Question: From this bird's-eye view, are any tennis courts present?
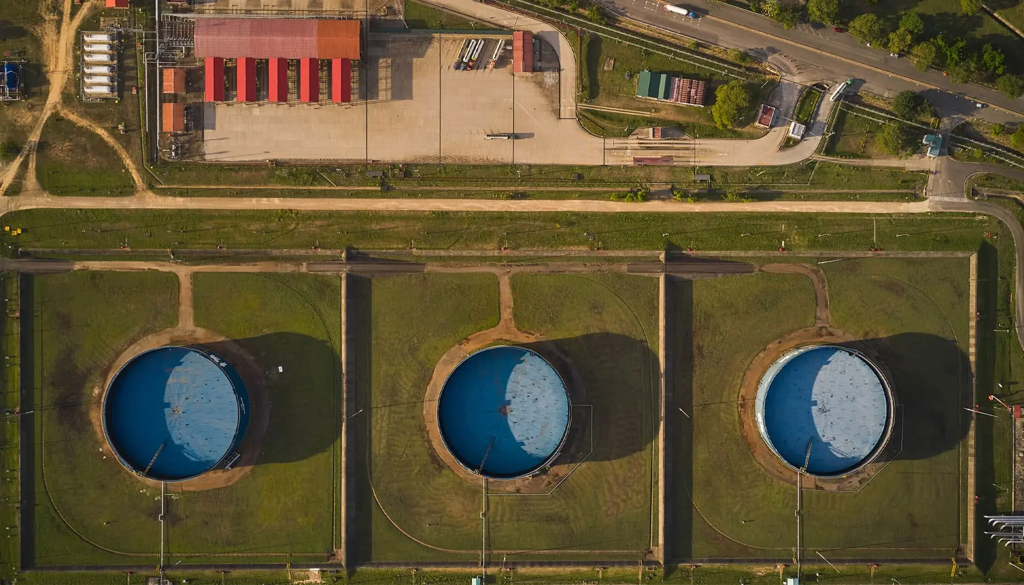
No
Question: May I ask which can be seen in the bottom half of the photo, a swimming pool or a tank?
tank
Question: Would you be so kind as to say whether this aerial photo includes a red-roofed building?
Yes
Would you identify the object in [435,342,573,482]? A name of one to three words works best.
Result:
storage tank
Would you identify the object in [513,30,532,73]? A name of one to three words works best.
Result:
building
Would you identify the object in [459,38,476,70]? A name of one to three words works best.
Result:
vehicle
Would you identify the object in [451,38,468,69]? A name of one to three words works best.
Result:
vehicle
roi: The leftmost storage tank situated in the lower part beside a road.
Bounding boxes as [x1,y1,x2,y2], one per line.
[100,342,250,484]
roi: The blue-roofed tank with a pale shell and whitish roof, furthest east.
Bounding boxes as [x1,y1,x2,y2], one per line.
[752,342,897,480]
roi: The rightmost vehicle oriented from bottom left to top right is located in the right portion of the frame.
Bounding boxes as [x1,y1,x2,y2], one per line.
[830,75,856,101]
